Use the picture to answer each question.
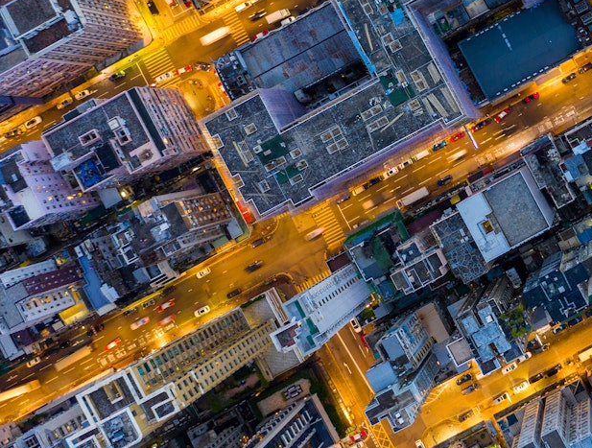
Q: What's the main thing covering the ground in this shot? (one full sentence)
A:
What you mostly see from above here is buildings.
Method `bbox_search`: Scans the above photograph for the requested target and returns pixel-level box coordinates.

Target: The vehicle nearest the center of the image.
[304,227,323,240]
